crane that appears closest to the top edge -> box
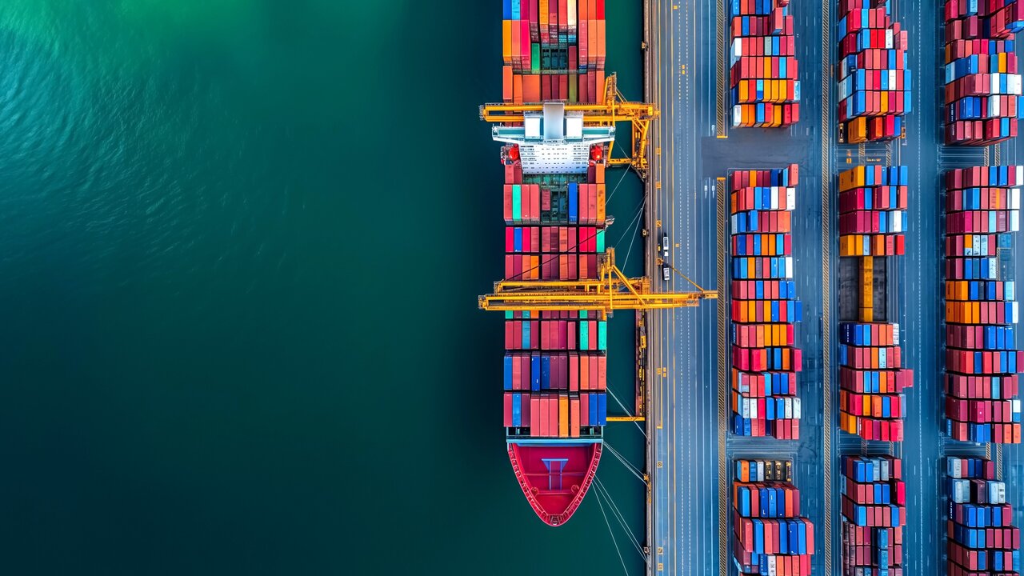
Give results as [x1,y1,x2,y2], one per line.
[479,68,660,171]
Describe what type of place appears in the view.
port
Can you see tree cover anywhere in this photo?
No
